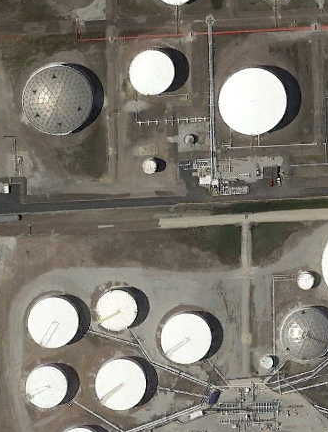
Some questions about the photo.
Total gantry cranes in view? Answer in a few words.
zero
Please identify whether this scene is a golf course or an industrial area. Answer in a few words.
industrial area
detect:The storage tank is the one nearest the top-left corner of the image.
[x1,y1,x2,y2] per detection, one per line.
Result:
[22,62,95,137]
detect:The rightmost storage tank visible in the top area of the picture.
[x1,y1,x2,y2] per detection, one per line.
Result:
[217,64,289,138]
